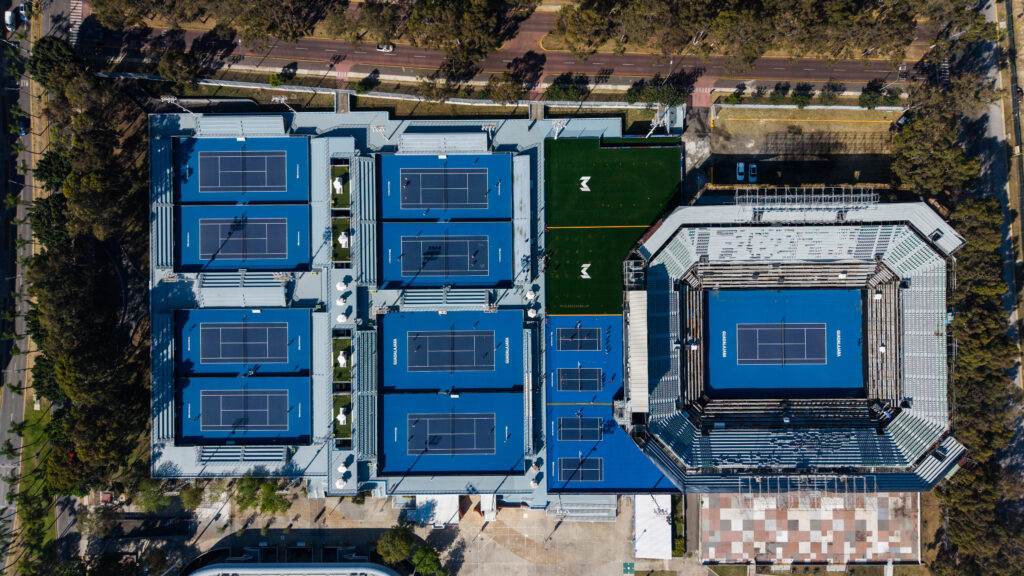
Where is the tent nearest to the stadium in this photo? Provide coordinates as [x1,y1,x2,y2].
[634,493,671,559]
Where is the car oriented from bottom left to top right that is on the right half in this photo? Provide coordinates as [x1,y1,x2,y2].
[894,113,909,130]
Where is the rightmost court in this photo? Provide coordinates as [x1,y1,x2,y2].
[704,287,862,400]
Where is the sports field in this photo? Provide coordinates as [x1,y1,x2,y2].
[546,137,684,315]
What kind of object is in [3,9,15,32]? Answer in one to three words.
vehicle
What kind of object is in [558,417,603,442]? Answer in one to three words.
sports court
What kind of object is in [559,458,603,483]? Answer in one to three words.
sports court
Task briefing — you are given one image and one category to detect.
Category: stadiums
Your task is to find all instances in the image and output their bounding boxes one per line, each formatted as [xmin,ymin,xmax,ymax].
[611,188,970,509]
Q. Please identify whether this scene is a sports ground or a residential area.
sports ground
